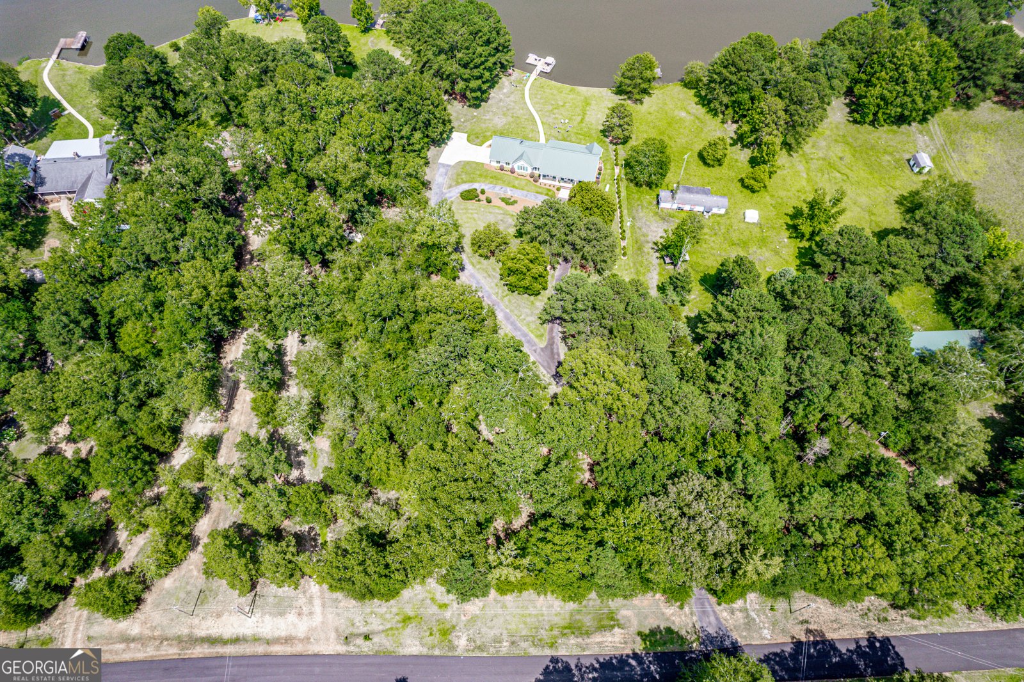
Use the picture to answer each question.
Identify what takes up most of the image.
trees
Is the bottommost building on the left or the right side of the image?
right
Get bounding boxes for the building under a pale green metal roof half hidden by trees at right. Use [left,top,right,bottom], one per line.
[899,326,982,358]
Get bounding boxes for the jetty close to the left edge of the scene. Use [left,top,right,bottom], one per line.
[51,32,97,60]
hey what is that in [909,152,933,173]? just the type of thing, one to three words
shed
